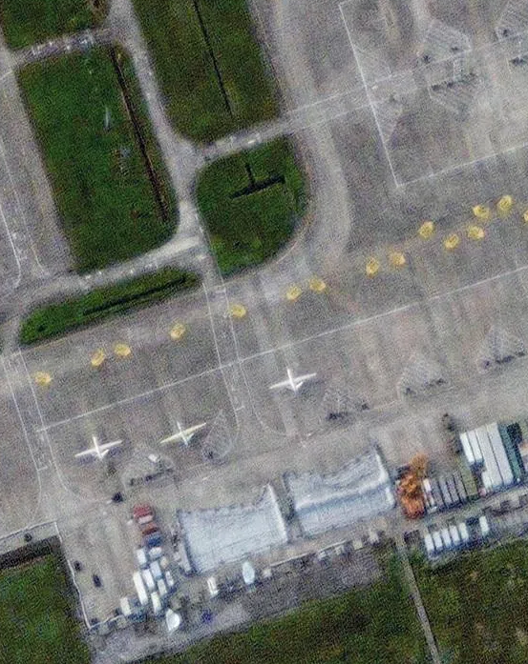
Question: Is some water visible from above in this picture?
No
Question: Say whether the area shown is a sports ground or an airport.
airport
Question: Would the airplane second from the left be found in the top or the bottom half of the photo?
bottom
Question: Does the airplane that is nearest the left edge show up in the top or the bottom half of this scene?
bottom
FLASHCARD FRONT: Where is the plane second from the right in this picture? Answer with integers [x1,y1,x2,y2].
[161,422,206,447]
